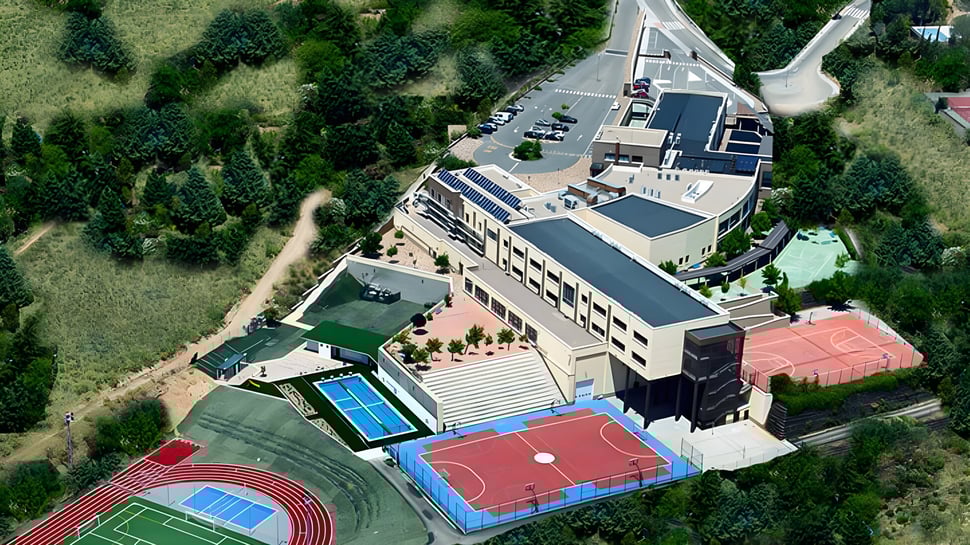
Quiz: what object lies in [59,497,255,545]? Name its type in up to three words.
soccer field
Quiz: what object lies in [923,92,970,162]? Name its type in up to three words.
house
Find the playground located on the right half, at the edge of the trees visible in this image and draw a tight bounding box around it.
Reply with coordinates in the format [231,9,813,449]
[698,228,868,309]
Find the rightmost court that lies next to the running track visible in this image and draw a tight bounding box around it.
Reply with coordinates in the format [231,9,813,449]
[390,391,699,531]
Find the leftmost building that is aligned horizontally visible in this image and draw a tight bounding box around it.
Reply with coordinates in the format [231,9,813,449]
[302,320,391,370]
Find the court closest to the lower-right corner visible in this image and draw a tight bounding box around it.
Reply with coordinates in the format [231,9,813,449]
[740,315,920,387]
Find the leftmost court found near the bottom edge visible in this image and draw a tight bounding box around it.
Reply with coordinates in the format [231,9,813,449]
[177,485,278,530]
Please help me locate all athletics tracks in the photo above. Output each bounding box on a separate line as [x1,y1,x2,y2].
[4,438,332,545]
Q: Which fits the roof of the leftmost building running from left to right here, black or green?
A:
green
